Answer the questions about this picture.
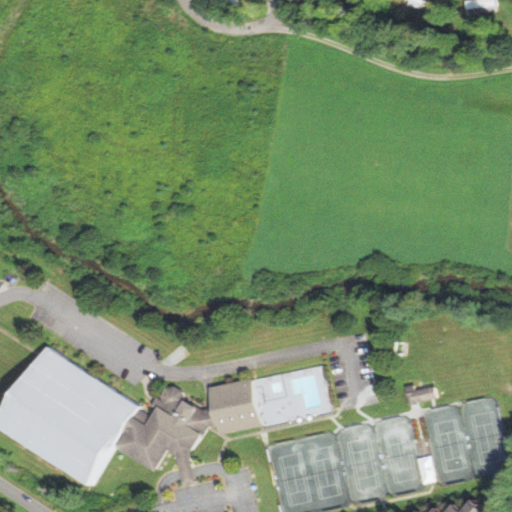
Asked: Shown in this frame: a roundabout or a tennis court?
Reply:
tennis court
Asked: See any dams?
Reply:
No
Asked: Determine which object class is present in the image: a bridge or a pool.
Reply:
pool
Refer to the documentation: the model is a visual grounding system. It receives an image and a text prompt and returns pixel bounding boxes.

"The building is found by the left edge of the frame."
[0,346,144,485]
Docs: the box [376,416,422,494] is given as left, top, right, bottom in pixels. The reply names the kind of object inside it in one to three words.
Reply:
tennis court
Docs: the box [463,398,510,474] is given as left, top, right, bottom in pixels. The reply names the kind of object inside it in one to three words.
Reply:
tennis court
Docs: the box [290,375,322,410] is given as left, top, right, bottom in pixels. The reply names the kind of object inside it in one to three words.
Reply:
swimming pool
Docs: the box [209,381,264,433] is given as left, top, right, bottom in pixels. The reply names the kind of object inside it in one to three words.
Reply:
building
